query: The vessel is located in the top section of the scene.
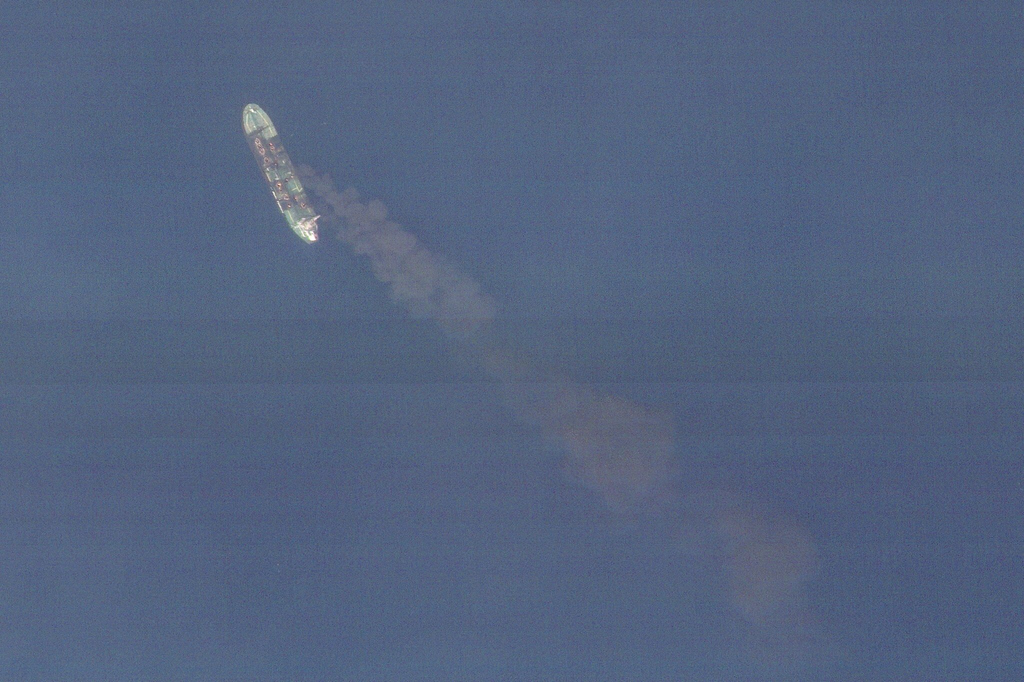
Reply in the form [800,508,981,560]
[245,103,320,244]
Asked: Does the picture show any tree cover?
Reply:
No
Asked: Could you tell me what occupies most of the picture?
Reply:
water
